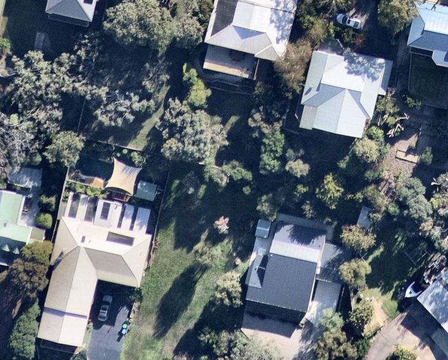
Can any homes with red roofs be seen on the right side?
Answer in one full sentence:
No, there's no home with a red roof to be seen on the right side.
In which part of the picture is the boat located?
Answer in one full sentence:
The boat is in the bottom right part of the image.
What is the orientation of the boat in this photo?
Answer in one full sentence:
The boat is oriented diagonally.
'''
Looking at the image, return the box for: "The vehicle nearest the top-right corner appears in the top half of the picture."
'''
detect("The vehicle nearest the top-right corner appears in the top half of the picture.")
[335,12,363,29]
